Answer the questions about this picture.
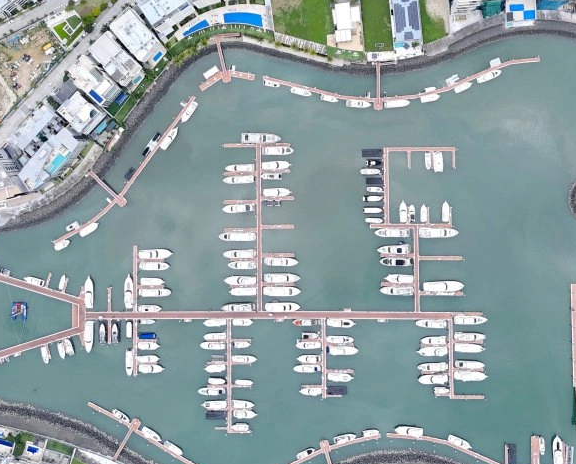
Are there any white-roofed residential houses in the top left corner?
Yes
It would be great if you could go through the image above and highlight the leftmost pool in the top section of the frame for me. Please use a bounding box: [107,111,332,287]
[51,154,68,173]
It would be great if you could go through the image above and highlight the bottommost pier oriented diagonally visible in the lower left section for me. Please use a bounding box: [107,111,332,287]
[87,401,196,464]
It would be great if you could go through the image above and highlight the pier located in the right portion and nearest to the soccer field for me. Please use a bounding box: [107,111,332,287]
[263,57,540,109]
